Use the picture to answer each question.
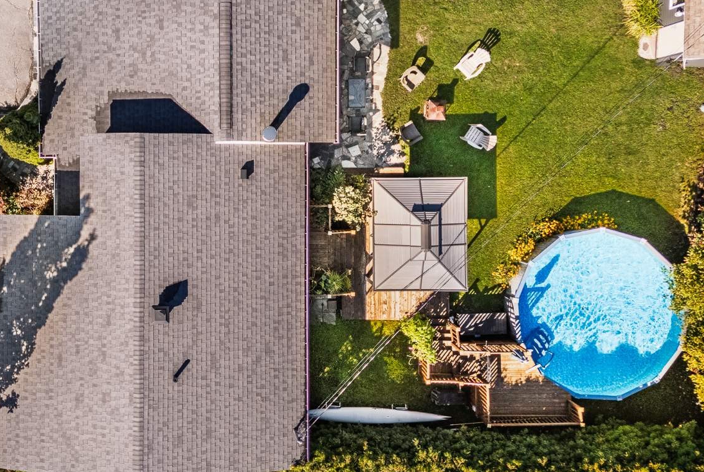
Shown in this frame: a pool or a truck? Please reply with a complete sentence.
There is a pool in the scene.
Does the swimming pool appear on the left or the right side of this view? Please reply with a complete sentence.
The swimming pool is on the right side of the image.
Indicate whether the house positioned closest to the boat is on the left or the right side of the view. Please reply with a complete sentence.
The house positioned closest to the boat appears in the left half of the scene.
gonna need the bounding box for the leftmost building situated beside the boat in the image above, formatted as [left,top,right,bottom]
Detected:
[0,0,343,472]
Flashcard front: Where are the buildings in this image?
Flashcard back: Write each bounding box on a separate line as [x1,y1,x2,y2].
[0,0,343,472]
[654,0,704,67]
